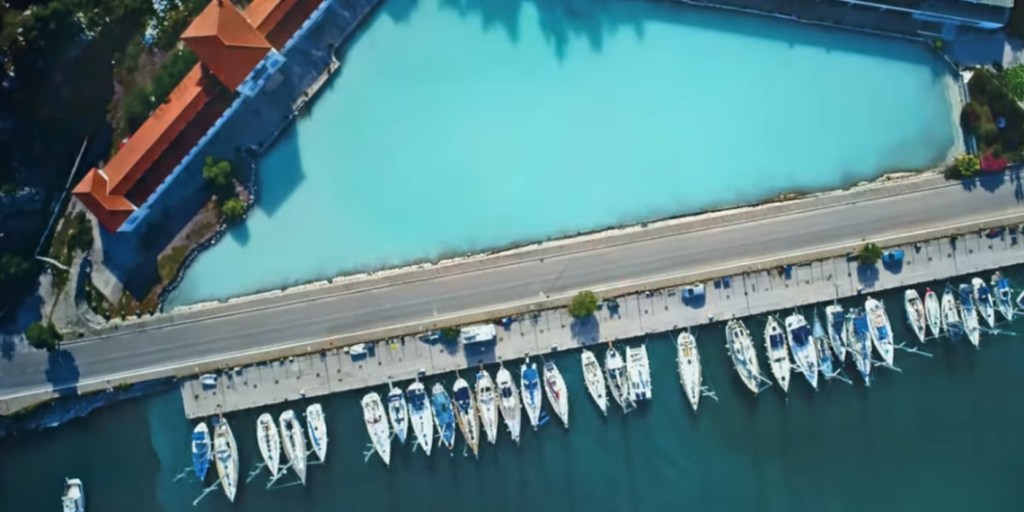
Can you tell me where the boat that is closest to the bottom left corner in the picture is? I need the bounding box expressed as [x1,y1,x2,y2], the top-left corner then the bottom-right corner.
[61,475,86,512]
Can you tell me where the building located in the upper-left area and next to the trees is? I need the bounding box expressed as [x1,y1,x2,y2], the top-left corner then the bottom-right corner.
[73,0,342,232]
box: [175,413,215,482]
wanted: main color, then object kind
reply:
blue boat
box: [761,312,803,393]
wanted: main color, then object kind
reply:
white boat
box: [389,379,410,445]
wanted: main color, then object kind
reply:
white boat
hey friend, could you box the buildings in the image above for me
[73,0,342,232]
[842,0,1018,49]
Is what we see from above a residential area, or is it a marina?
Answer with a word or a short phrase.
marina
